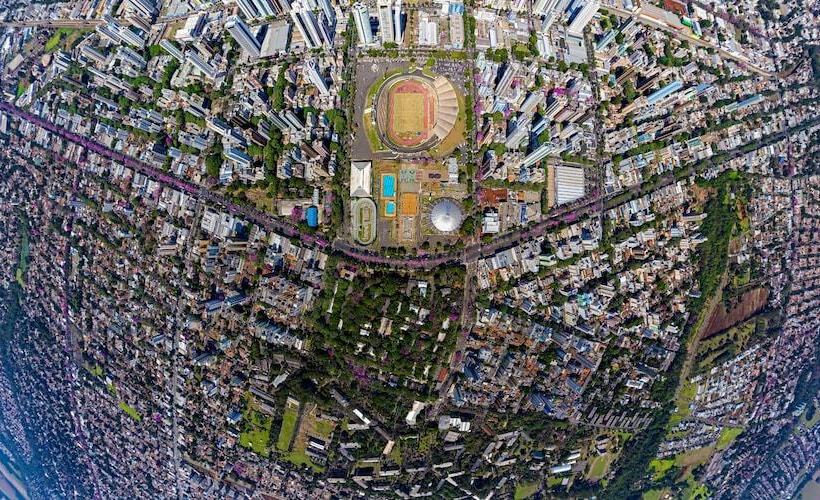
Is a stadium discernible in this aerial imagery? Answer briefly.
Yes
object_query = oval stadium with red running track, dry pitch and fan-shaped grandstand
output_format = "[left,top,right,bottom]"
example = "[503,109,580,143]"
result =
[363,62,460,154]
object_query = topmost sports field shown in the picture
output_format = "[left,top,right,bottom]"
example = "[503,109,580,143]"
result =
[395,93,425,135]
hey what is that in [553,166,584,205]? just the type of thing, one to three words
building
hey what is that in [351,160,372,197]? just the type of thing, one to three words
building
